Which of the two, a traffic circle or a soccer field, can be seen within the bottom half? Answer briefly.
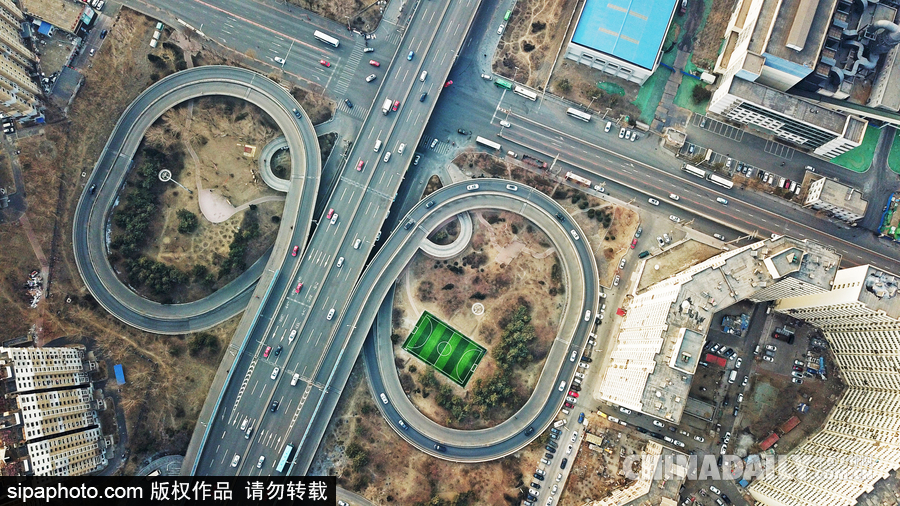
soccer field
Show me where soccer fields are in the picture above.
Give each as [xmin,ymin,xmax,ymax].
[401,309,488,387]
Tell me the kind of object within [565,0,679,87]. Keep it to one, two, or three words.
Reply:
building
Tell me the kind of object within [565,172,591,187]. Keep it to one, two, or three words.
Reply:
vehicle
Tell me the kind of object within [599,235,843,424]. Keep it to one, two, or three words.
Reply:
building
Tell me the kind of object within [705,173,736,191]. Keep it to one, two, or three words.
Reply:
vehicle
